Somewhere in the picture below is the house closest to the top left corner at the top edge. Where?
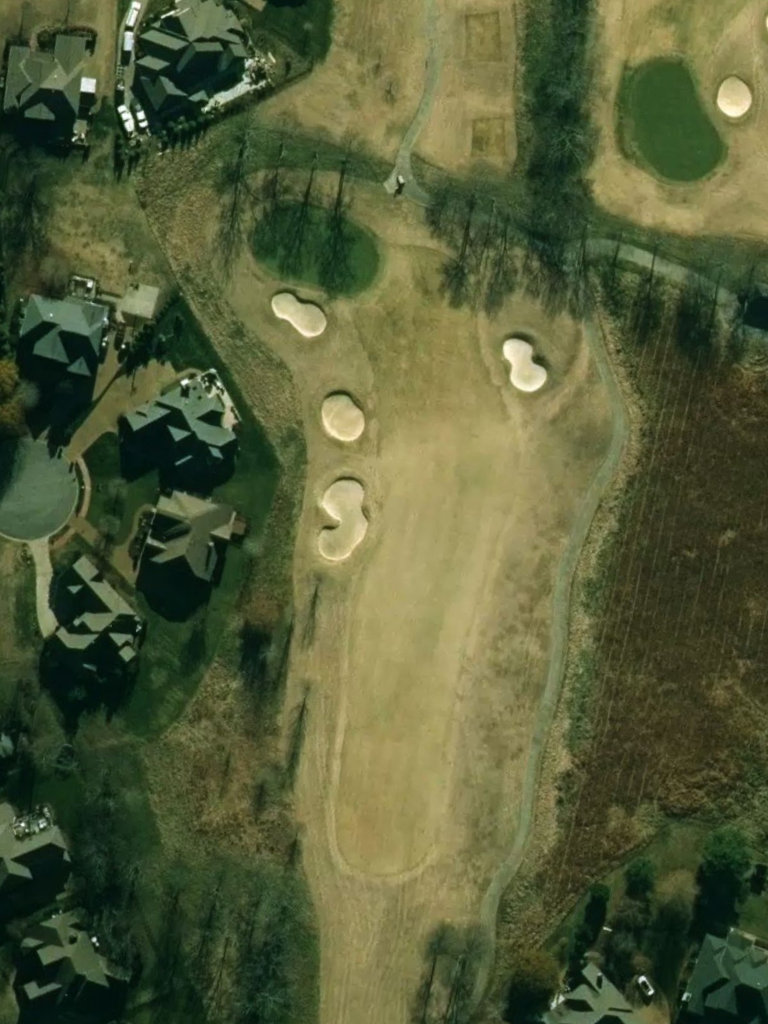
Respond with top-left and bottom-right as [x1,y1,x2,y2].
[0,35,87,122]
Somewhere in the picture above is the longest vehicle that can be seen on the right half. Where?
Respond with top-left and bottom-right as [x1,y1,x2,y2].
[636,974,654,997]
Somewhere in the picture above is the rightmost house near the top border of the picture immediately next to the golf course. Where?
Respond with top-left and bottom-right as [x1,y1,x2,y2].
[130,0,249,115]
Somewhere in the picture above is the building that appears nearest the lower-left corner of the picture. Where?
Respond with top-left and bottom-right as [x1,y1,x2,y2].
[20,904,130,1007]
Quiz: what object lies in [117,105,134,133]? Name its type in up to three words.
vehicle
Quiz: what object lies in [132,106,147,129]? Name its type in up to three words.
car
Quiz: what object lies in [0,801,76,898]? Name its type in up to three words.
house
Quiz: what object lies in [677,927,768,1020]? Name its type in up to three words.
house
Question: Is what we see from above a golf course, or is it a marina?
golf course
